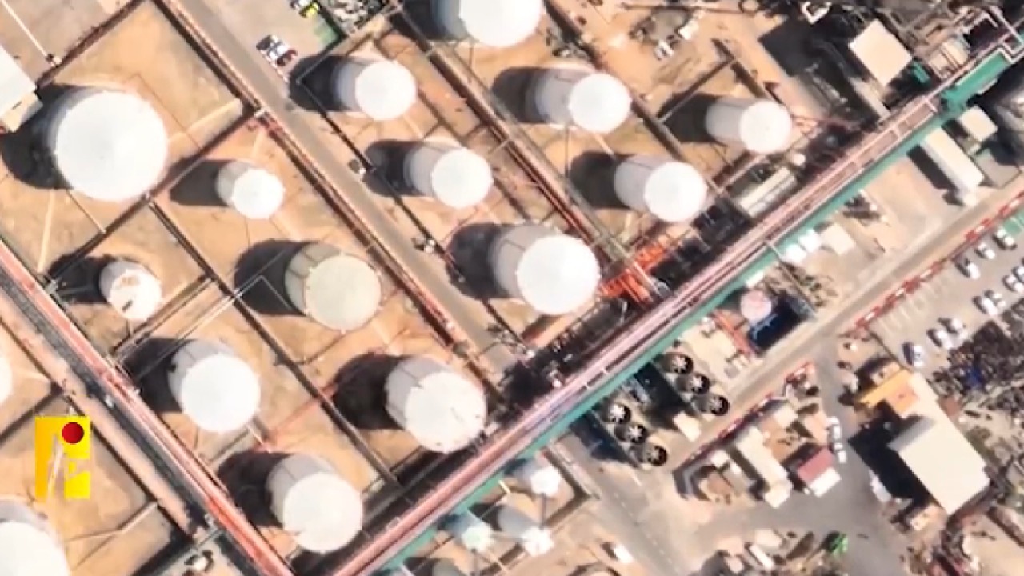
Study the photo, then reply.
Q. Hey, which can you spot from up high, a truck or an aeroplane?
truck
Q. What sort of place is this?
industrial area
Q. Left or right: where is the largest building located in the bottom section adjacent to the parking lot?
right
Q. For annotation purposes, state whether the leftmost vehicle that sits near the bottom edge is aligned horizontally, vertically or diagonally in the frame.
diagonally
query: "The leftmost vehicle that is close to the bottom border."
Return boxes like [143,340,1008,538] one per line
[611,539,634,566]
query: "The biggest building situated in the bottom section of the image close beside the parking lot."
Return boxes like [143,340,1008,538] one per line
[872,418,991,515]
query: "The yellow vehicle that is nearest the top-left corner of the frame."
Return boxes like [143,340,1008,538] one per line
[299,1,320,20]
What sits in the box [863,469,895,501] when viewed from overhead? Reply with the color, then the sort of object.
white truck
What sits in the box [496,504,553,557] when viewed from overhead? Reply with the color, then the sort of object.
white storage tank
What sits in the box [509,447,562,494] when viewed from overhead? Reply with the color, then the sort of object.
white storage tank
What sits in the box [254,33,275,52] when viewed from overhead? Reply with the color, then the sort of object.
gray car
